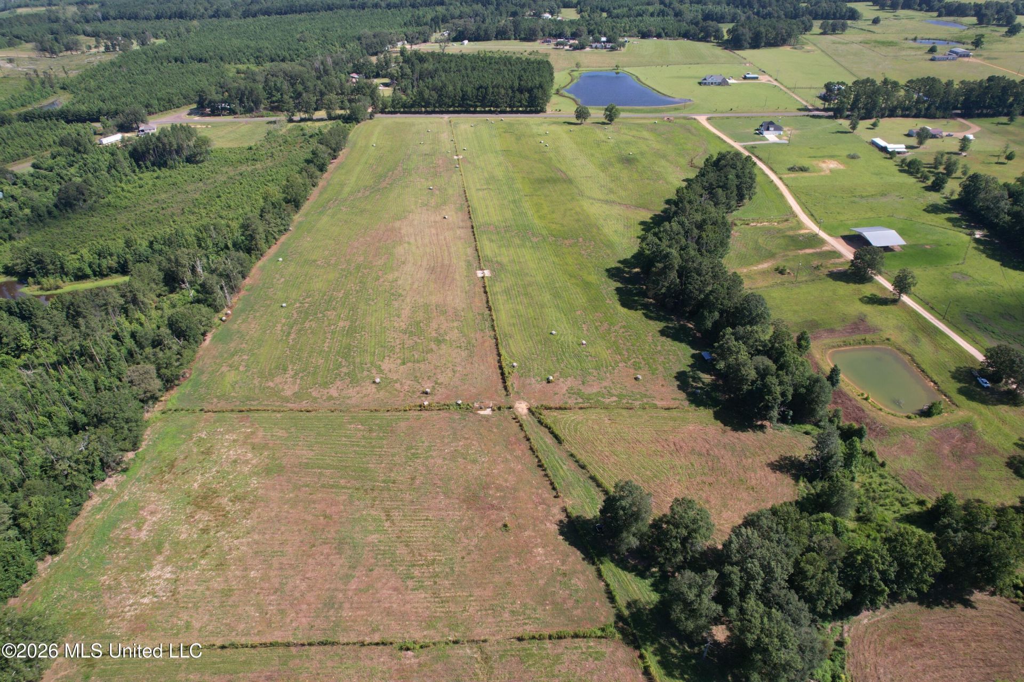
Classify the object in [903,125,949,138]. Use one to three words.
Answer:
house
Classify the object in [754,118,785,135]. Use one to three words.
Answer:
house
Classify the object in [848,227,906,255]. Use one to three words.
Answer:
barn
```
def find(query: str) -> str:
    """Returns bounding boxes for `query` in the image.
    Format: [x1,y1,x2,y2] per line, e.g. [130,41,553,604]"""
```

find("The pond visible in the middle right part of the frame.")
[828,346,942,415]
